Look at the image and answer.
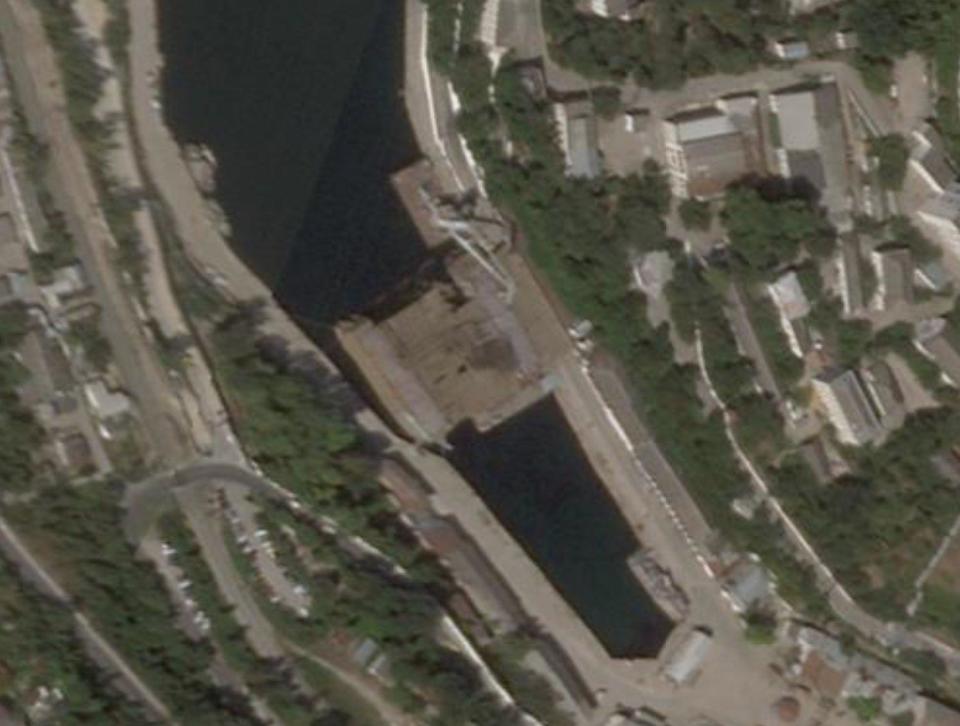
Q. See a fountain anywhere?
No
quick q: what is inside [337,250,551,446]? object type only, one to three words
pier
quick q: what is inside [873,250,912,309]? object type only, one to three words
house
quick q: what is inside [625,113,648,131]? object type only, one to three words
shed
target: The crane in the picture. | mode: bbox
[416,186,515,296]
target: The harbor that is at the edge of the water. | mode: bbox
[129,0,806,726]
